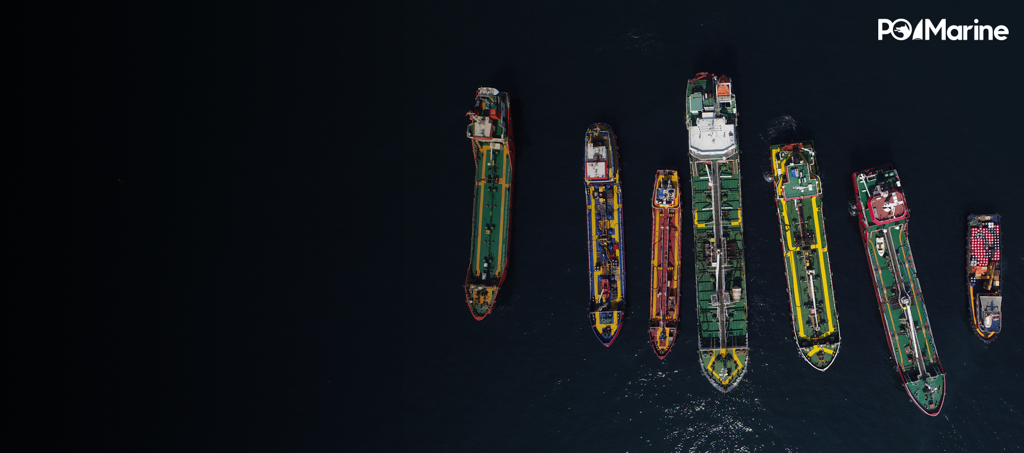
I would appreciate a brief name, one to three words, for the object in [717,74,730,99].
boat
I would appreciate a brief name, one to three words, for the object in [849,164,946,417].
ship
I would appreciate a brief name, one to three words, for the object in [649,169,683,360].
ship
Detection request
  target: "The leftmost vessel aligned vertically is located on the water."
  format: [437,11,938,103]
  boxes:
[462,86,515,321]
